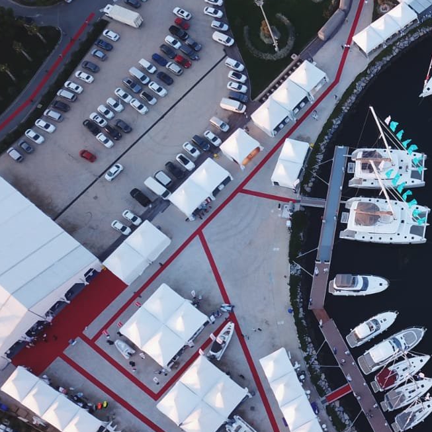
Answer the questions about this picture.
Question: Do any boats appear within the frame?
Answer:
Yes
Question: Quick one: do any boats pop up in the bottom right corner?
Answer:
Yes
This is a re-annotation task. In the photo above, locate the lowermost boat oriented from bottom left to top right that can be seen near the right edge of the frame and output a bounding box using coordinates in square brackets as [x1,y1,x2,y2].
[382,396,432,431]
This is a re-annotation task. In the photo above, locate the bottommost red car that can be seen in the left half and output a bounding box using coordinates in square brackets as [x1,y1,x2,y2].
[78,149,99,163]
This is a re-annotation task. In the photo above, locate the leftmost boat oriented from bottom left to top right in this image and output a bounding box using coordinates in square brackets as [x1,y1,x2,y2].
[207,322,235,360]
